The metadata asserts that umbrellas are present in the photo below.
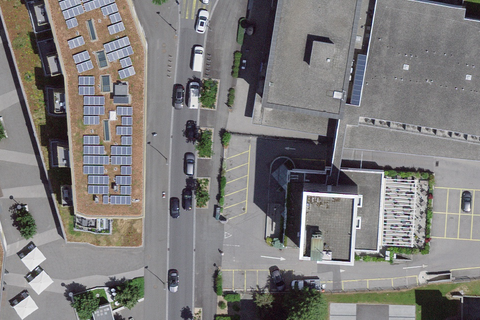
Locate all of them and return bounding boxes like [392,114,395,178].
[28,270,54,294]
[13,296,38,320]
[21,246,46,272]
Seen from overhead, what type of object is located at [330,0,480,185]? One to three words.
building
